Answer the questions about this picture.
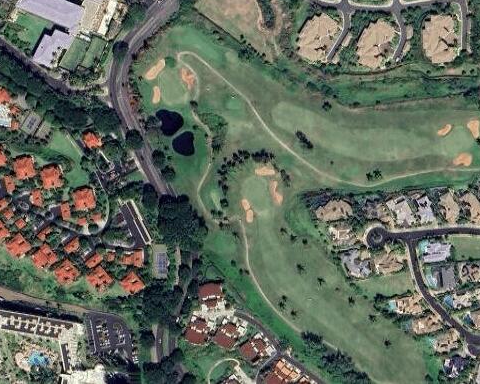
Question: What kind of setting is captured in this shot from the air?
golf course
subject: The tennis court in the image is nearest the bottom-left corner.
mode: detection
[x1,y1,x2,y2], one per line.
[153,242,170,279]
